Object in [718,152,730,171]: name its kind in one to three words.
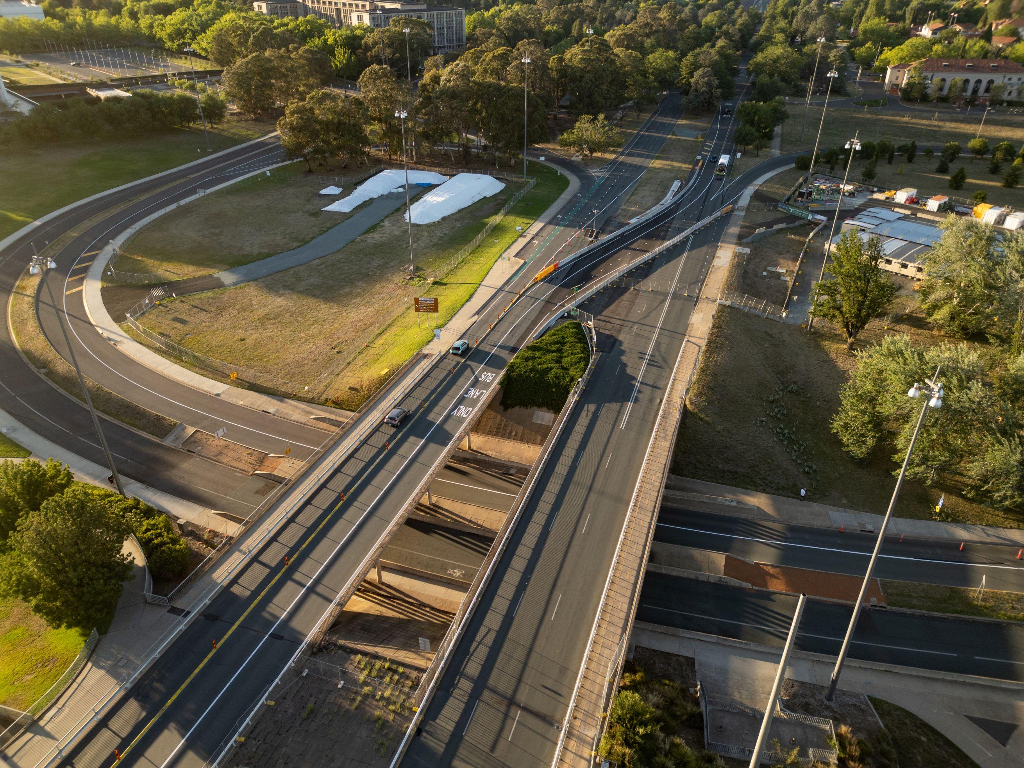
vehicle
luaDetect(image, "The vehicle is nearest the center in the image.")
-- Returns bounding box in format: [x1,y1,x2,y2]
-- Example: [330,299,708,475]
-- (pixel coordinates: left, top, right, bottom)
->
[451,340,471,355]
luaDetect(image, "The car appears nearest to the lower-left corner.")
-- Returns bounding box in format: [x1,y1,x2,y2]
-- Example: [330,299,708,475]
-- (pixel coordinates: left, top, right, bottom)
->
[383,405,411,427]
